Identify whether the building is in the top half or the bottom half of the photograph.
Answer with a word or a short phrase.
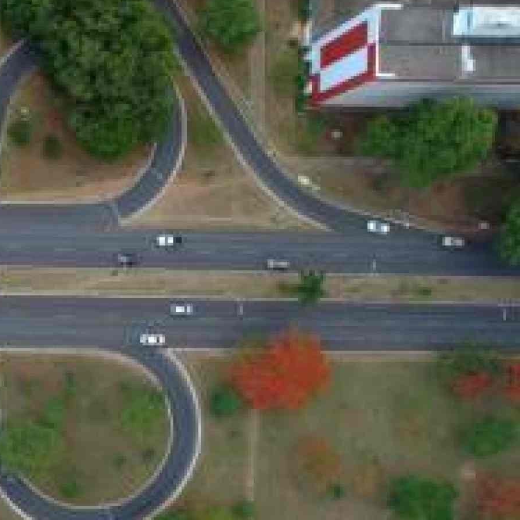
top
